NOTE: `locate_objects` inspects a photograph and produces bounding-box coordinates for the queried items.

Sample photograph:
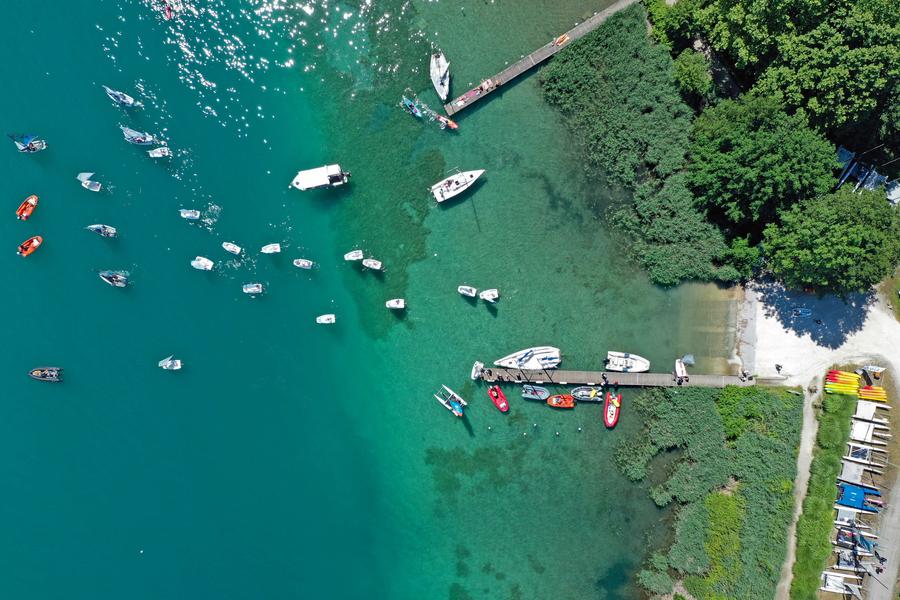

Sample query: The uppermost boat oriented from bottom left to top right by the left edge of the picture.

[12,195,36,222]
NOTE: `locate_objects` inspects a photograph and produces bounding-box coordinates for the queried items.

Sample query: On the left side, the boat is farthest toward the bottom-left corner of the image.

[25,367,65,382]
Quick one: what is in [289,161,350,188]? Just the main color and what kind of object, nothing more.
white boat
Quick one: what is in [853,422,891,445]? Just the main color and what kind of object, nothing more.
white boat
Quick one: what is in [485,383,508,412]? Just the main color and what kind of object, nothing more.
red boat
